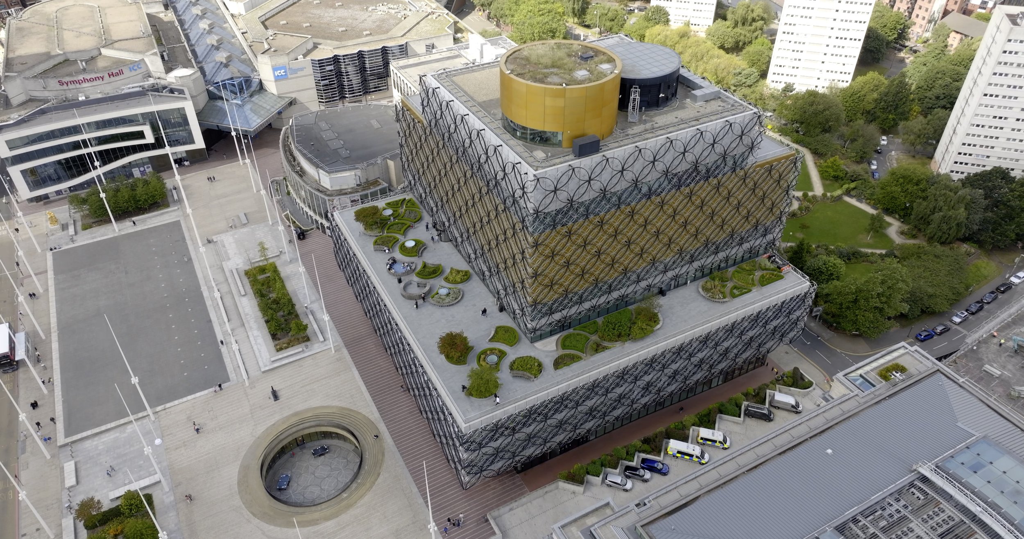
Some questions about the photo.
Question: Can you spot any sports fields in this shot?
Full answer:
Yes, there's a sports field down there.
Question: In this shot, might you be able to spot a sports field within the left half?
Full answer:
No, looking within the left half, there is no sports field.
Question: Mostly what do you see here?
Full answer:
What you mostly see from above here is buildings.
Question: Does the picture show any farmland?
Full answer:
No, farmland can't be seen anywhere here.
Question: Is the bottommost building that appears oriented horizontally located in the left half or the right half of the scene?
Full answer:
It is on the right.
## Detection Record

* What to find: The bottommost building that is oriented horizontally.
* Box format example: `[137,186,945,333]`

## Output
[550,342,1024,539]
